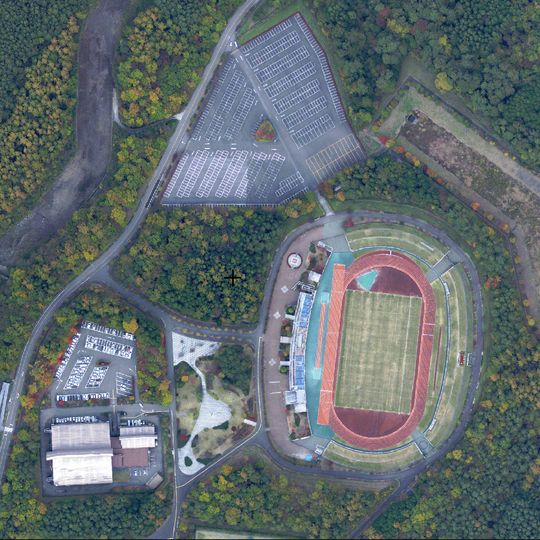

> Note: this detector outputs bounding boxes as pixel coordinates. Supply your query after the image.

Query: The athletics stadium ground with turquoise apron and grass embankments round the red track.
[306,217,475,472]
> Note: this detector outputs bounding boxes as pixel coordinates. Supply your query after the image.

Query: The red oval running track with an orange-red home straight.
[319,251,435,450]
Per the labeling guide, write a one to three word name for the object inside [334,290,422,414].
soccer field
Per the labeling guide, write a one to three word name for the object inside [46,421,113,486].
building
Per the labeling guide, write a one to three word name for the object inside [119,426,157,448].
building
